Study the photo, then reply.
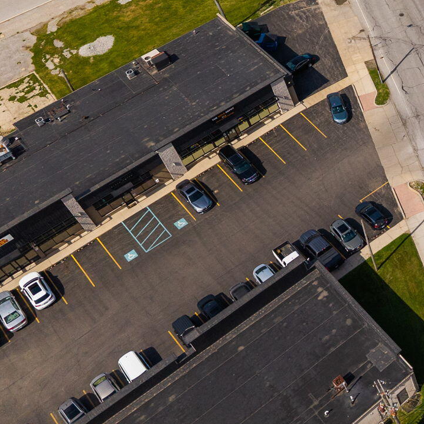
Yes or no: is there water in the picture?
No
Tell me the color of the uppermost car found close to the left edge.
white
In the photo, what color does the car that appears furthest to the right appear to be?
black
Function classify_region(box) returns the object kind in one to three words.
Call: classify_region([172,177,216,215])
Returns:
car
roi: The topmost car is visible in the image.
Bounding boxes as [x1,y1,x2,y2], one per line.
[285,51,322,77]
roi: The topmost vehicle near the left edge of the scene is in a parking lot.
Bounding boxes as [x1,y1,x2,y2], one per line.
[17,272,56,311]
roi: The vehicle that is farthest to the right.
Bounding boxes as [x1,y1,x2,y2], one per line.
[355,200,390,235]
